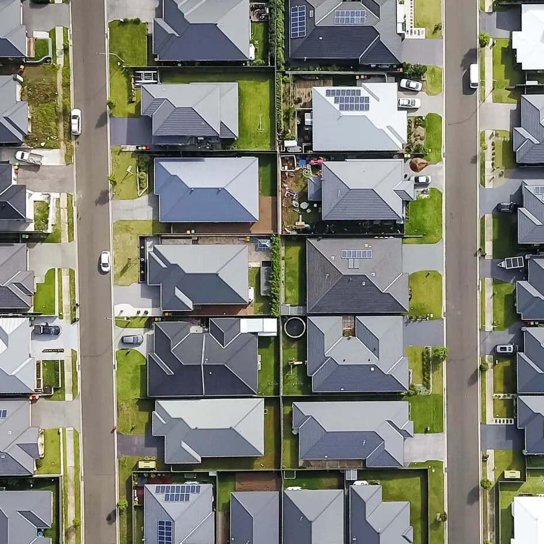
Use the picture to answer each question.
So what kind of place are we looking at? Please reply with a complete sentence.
What you see here is a residential area.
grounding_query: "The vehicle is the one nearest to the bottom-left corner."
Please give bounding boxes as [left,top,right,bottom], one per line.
[35,321,62,335]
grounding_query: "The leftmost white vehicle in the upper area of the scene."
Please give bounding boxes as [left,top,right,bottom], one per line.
[16,150,44,164]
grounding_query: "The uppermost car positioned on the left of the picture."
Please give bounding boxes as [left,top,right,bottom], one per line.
[69,109,83,134]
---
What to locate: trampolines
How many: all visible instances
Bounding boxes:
[284,317,307,338]
[311,220,327,236]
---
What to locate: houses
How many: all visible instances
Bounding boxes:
[307,237,409,313]
[517,395,544,454]
[0,0,30,59]
[0,317,39,394]
[516,256,544,319]
[307,160,415,220]
[0,243,37,309]
[292,401,413,467]
[0,164,32,220]
[0,400,42,476]
[154,157,259,223]
[152,399,265,465]
[148,318,278,396]
[350,480,413,544]
[141,83,238,147]
[517,327,544,393]
[517,179,544,244]
[307,316,409,392]
[148,244,249,311]
[152,0,250,61]
[513,95,544,165]
[0,75,32,144]
[282,485,344,544]
[312,83,408,152]
[511,495,544,544]
[288,0,402,66]
[0,491,56,544]
[143,483,215,544]
[231,492,279,544]
[511,3,544,70]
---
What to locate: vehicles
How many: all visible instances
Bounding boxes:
[400,79,424,92]
[496,202,518,212]
[120,334,144,345]
[35,321,62,335]
[410,175,432,185]
[16,150,44,164]
[495,344,517,354]
[69,109,83,134]
[468,62,479,89]
[99,252,110,271]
